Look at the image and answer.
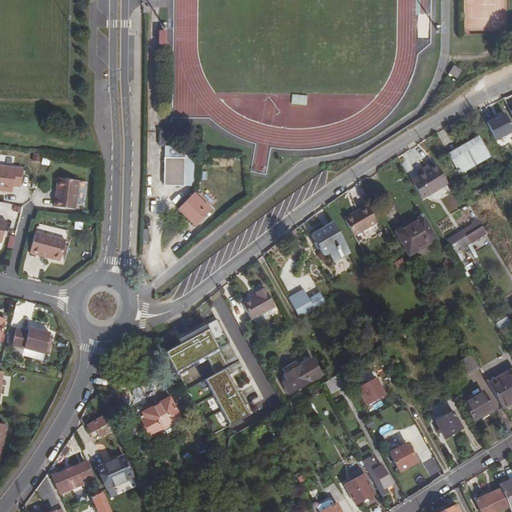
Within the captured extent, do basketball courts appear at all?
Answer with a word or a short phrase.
No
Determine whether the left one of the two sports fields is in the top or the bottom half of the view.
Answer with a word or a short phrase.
top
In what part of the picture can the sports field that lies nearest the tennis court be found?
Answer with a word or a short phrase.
top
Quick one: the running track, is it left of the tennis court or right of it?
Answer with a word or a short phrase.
to the left of it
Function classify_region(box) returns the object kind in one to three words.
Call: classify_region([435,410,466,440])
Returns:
house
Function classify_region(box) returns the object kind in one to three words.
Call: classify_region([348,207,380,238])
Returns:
house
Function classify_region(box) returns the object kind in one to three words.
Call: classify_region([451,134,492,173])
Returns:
barn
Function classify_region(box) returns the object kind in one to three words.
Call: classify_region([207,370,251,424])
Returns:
building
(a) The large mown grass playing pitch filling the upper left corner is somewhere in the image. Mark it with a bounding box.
[0,0,68,98]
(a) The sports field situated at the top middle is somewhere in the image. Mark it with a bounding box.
[198,0,398,92]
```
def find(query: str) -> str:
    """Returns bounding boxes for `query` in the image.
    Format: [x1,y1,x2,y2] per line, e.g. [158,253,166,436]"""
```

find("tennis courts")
[464,0,507,32]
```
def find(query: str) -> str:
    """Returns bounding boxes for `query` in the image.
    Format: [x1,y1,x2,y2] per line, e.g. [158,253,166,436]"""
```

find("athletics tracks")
[174,0,430,173]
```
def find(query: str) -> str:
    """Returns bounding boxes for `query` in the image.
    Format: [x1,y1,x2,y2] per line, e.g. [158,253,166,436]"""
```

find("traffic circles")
[36,256,172,355]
